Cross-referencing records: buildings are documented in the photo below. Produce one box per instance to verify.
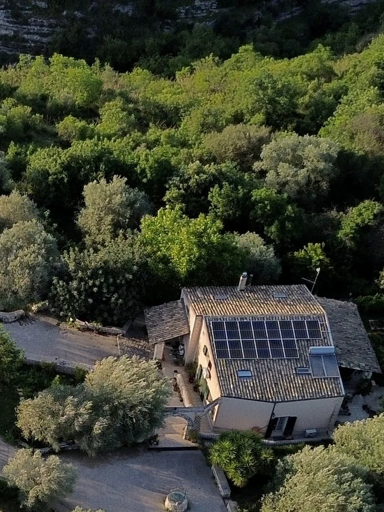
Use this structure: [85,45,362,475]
[143,270,382,439]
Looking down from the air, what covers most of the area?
trees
